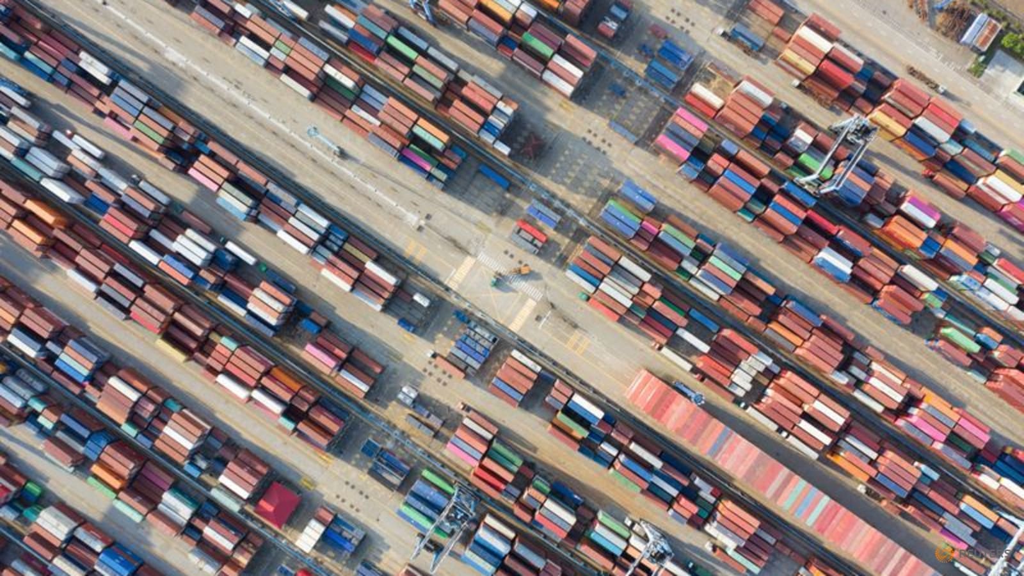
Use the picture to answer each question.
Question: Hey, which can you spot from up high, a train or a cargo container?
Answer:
cargo container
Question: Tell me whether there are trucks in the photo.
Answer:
Yes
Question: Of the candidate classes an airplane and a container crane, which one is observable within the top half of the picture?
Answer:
container crane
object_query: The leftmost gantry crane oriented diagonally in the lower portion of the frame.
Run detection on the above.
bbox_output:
[400,487,475,576]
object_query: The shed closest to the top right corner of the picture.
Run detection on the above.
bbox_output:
[955,10,1001,58]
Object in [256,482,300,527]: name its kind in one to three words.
shed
